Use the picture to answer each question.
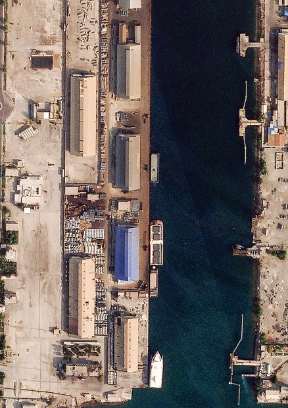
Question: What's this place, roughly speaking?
port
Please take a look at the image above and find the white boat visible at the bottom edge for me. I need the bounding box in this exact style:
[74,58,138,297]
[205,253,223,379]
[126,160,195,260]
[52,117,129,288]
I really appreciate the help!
[150,351,162,389]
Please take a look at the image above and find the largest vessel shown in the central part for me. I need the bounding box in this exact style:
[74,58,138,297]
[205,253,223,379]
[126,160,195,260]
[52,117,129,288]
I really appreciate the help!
[150,219,163,266]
